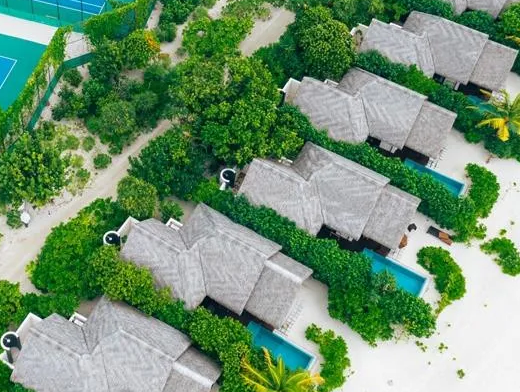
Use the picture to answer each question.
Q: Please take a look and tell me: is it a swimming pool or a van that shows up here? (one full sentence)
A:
This aerial view contains a swimming pool.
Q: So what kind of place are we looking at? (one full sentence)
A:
It's a residential area.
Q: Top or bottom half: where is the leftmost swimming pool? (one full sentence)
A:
The leftmost swimming pool is in the bottom half of the image.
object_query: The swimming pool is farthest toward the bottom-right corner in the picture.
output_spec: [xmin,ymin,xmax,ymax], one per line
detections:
[363,243,431,300]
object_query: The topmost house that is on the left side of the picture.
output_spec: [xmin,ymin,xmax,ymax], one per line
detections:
[100,198,313,340]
